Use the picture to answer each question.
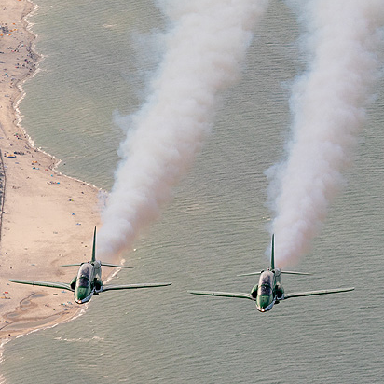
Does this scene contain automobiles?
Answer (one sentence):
No, this view has no automobile in it.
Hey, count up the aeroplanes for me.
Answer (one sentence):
The number of aeroplanes here is 2.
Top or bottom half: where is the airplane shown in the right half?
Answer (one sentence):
You can find the airplane shown in the right half in the bottom half.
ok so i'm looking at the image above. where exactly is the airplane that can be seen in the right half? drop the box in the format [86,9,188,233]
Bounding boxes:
[188,232,353,311]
